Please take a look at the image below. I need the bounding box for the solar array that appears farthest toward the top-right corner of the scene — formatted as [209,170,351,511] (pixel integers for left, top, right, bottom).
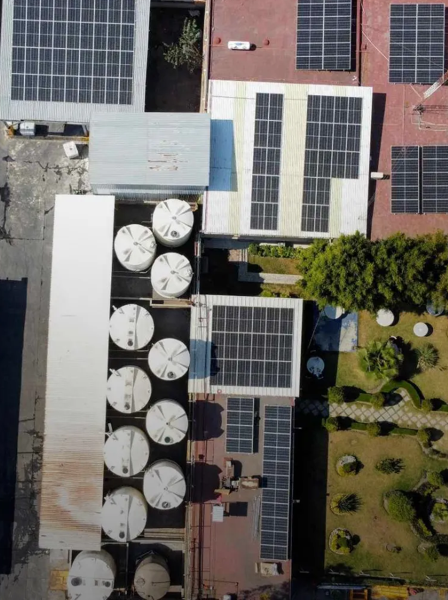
[390,4,445,84]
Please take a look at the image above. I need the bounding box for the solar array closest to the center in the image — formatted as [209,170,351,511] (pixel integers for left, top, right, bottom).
[210,306,294,388]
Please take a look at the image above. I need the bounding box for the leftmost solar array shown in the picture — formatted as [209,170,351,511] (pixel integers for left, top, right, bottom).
[10,0,135,104]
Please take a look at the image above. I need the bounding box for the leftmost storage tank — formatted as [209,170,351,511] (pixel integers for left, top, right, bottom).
[67,546,118,600]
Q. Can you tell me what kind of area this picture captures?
industrial area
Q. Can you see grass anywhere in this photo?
Yes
